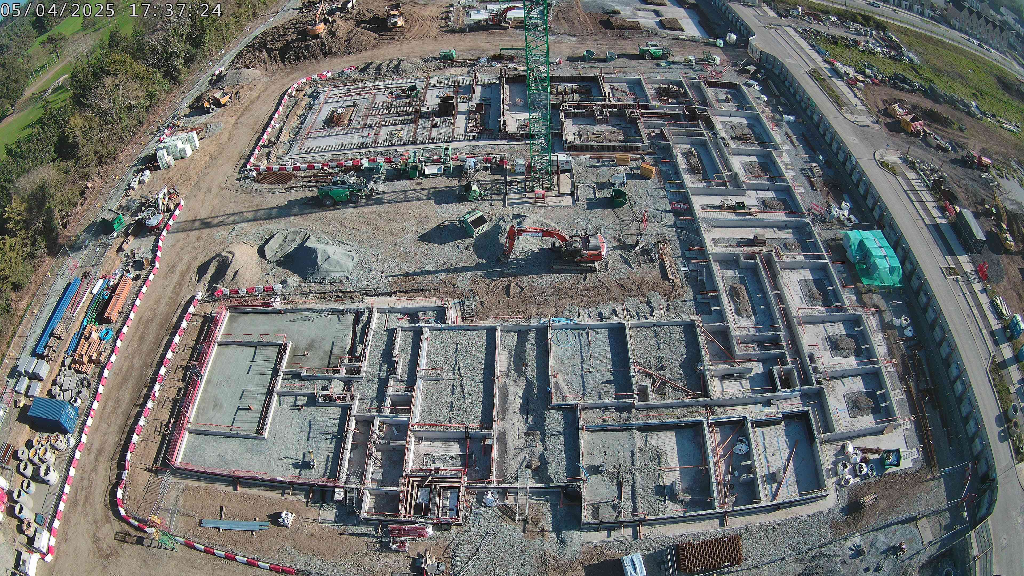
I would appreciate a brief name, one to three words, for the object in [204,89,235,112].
truck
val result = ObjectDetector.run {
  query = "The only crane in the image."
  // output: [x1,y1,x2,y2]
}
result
[521,0,556,199]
